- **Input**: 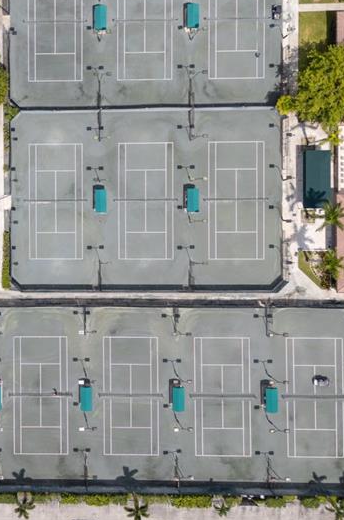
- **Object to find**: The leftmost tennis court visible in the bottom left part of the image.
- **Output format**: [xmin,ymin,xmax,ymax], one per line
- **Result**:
[0,309,86,486]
